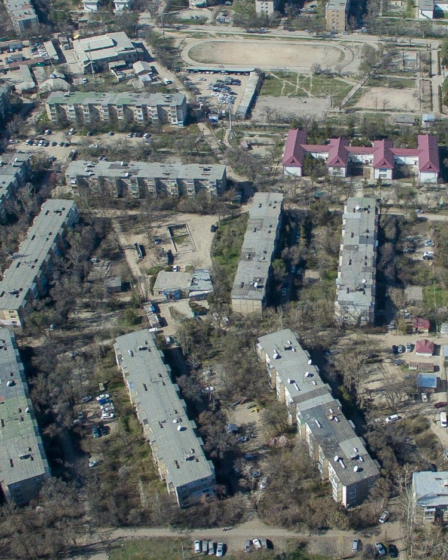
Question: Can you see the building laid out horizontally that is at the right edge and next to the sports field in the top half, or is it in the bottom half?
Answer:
top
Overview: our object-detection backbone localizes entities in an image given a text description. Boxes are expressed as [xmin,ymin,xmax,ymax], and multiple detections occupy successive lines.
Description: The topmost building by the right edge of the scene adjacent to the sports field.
[283,125,440,184]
